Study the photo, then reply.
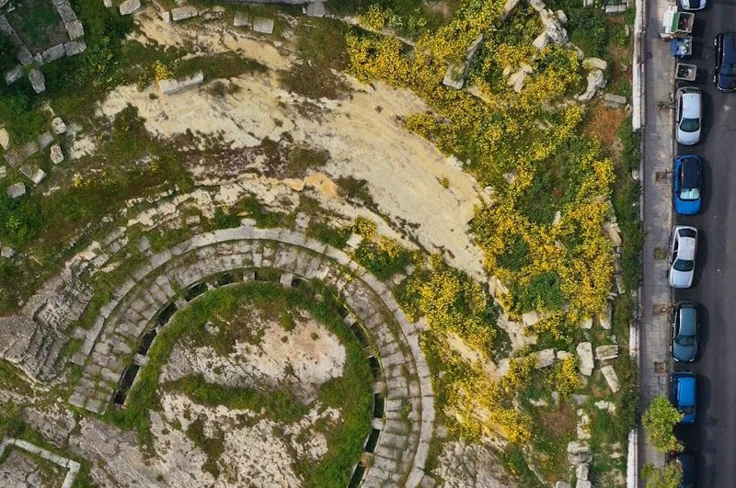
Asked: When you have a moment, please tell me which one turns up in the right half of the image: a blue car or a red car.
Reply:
blue car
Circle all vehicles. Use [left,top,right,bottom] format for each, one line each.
[667,372,699,426]
[677,0,705,13]
[663,446,695,488]
[670,87,703,149]
[666,225,699,291]
[668,303,702,364]
[669,155,704,219]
